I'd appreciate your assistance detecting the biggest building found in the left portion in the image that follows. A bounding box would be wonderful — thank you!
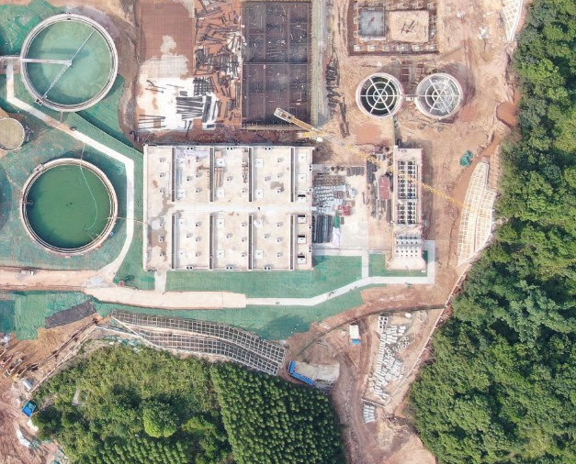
[141,146,315,271]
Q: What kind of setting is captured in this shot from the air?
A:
industrial area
